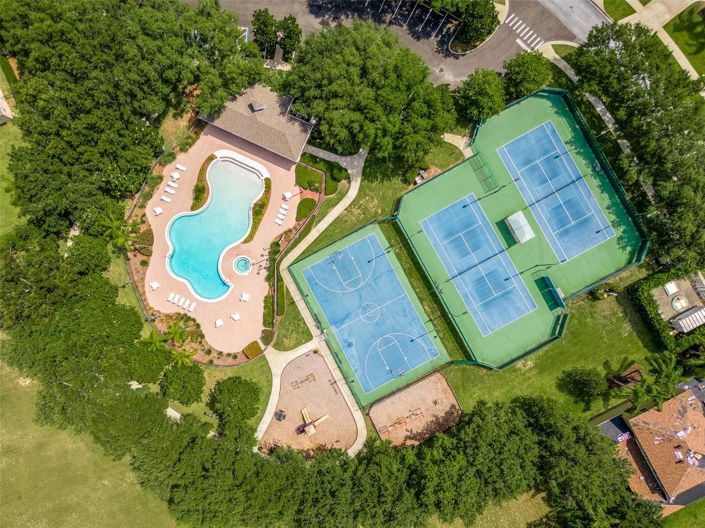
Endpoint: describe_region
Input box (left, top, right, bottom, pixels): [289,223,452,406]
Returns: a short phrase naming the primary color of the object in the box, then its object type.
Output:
blue basketball court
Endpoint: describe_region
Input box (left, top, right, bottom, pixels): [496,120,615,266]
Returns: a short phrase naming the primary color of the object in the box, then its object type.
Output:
blue tennis court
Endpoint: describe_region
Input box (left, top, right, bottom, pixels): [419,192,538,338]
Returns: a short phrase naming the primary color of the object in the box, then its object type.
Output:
blue tennis court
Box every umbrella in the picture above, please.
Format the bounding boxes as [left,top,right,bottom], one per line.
[214,318,224,327]
[153,205,164,217]
[170,171,181,182]
[149,279,160,291]
[283,191,293,201]
[240,293,249,302]
[230,311,241,322]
